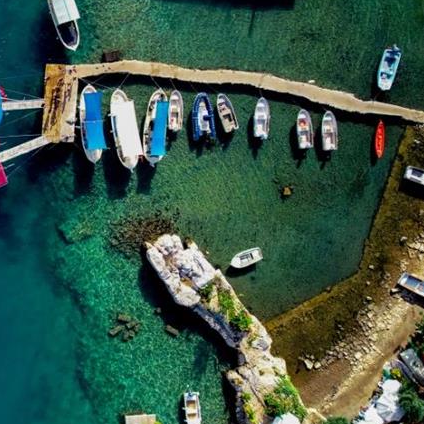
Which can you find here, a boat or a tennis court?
boat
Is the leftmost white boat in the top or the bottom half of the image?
top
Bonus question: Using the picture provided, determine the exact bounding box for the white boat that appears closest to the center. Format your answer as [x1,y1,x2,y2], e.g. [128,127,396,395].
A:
[231,246,265,267]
